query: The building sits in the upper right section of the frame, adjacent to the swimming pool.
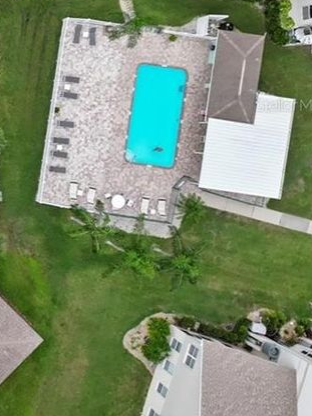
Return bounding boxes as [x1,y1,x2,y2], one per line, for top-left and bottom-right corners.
[177,28,297,198]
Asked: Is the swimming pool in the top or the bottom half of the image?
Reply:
top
